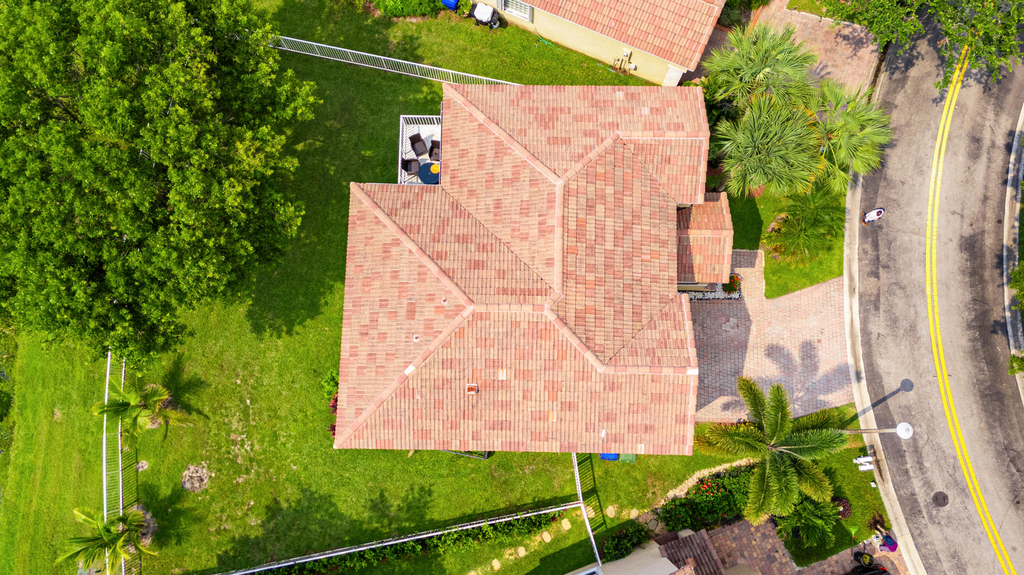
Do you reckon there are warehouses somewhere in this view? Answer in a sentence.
No, I find no warehouse anywhere in the image.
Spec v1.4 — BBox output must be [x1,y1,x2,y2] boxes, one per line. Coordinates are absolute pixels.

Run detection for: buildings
[561,527,732,575]
[333,82,734,458]
[469,0,730,85]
